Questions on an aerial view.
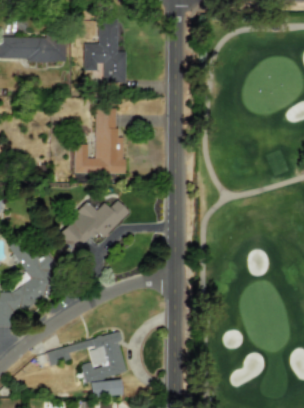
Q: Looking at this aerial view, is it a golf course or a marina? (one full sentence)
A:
This looks like a golf course.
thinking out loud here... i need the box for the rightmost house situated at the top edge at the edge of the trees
[84,20,126,82]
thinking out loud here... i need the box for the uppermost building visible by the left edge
[0,34,66,62]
